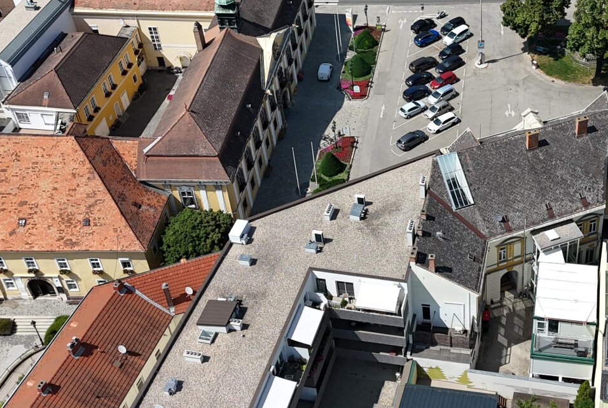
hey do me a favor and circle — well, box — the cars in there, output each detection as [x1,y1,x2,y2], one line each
[396,128,430,152]
[415,29,440,45]
[401,82,434,103]
[410,16,438,33]
[435,54,465,74]
[427,82,458,104]
[440,14,466,32]
[408,54,439,73]
[443,25,471,43]
[440,42,465,58]
[404,68,436,87]
[398,99,428,118]
[427,111,460,134]
[423,98,455,120]
[432,70,458,88]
